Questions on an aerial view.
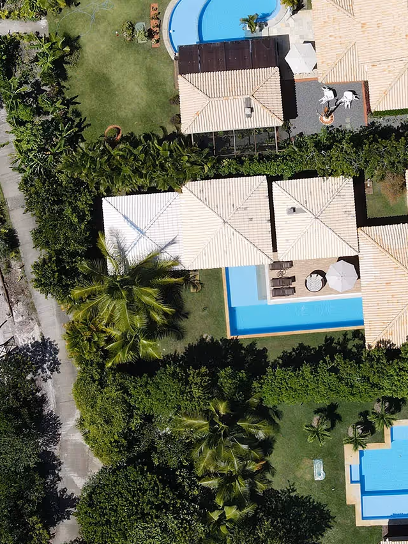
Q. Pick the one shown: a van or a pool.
pool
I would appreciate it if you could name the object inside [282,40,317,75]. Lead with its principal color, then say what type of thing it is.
white umbrella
